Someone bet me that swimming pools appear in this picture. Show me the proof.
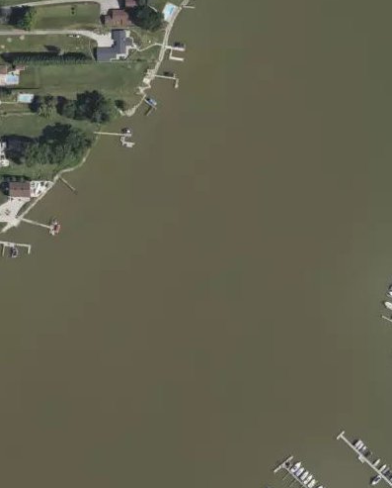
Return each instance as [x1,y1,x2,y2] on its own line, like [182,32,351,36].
[17,94,34,103]
[163,1,177,19]
[5,74,19,85]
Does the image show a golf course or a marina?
marina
